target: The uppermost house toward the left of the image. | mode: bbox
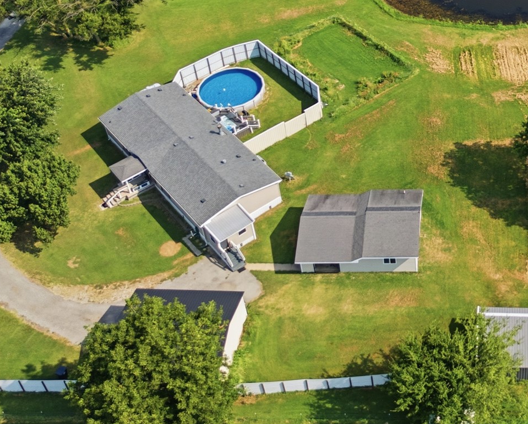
[95,82,285,272]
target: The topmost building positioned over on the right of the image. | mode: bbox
[293,190,424,278]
